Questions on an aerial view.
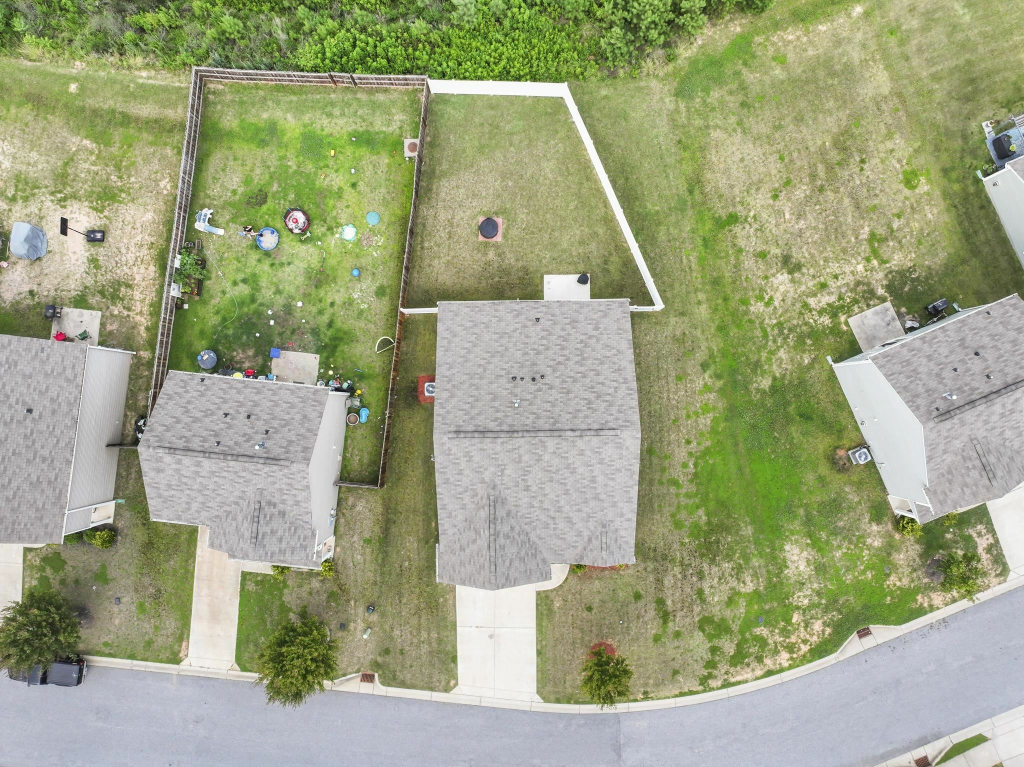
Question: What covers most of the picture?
grass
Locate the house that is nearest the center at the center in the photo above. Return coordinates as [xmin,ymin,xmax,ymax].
[433,298,641,589]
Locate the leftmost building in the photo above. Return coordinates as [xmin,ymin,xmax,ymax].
[0,334,134,548]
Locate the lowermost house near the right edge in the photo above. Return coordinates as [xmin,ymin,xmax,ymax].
[830,296,1024,529]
